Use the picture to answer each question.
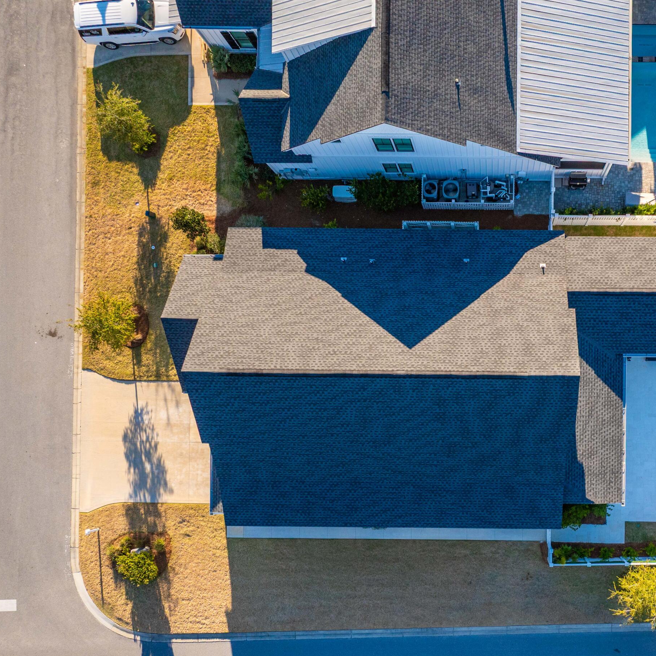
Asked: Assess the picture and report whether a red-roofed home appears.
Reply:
No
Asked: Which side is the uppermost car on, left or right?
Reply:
left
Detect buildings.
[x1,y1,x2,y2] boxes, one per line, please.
[177,0,633,184]
[161,226,656,526]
